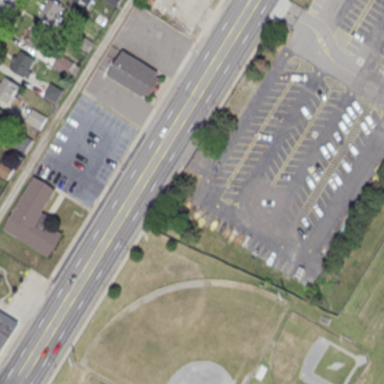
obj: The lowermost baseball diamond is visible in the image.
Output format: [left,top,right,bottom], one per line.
[300,338,368,384]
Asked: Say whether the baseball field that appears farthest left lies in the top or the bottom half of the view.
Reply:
bottom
